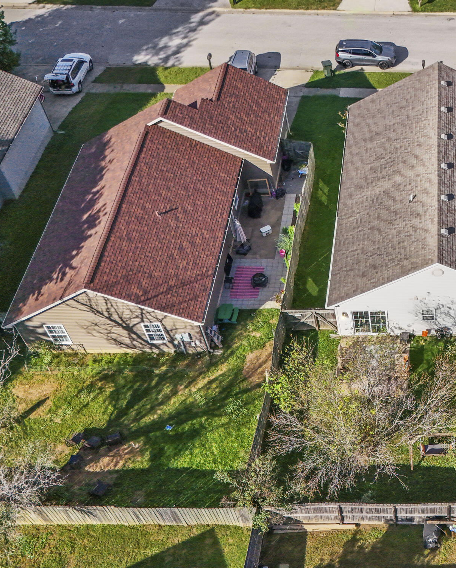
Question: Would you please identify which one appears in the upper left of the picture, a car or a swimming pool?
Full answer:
You can see a car in the upper left of the picture.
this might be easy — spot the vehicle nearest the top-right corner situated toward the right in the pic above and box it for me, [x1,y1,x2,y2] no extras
[333,37,399,69]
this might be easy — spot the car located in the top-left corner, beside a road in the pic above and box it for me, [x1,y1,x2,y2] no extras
[41,52,93,98]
